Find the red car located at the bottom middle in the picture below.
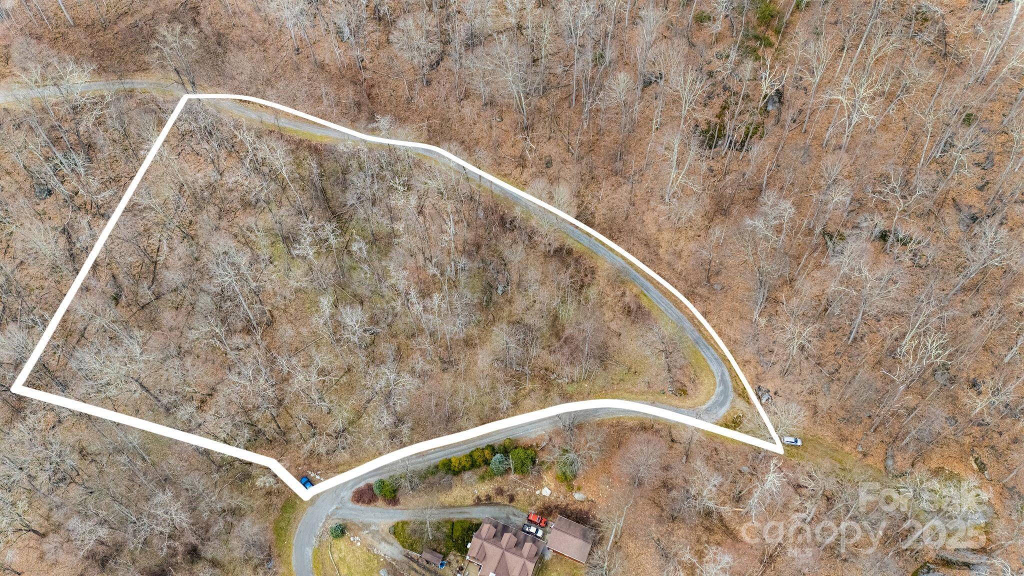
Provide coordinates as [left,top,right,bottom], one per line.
[528,512,547,527]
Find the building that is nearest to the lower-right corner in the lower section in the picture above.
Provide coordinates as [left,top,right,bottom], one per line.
[547,515,597,566]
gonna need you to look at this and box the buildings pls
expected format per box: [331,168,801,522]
[547,515,597,566]
[462,517,546,576]
[420,548,444,567]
